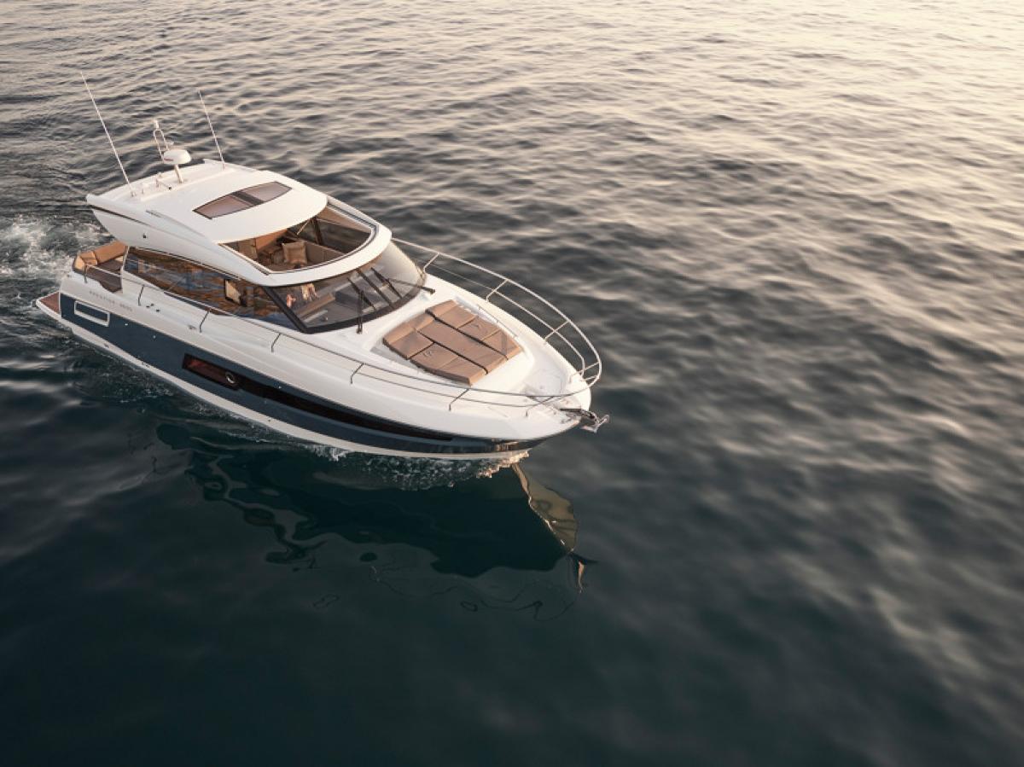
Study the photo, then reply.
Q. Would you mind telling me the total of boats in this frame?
1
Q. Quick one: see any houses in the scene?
No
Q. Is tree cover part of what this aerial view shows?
No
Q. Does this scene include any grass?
No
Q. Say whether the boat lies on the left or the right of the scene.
left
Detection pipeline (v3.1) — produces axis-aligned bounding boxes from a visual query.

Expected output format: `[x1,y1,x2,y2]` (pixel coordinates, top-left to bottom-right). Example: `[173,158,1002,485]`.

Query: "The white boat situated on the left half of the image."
[43,72,604,460]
